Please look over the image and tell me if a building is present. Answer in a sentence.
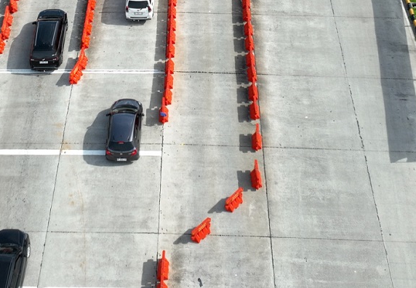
No, there appears to be no building in this shot.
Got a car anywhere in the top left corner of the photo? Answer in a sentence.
Yes, the scene does show a car in the top left corner of the photo.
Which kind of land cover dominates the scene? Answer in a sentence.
For the most part, this view shows paved ground.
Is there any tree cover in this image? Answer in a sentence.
No, the scene doesn't show any tree cover.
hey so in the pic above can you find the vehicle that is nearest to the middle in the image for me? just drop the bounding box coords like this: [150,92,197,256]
[106,94,146,161]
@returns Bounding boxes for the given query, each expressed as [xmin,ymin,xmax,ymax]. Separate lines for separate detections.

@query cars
[106,94,146,161]
[125,0,156,21]
[0,222,35,288]
[29,11,68,70]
